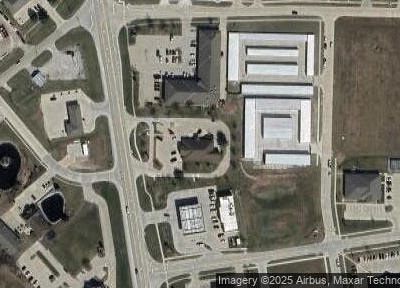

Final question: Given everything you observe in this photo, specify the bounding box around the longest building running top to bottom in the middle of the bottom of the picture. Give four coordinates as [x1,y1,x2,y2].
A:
[218,194,239,232]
